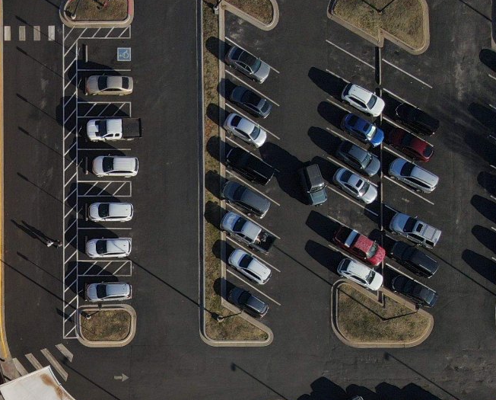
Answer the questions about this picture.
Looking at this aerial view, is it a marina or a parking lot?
parking lot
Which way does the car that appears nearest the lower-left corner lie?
from side to side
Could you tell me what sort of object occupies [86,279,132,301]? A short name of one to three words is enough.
car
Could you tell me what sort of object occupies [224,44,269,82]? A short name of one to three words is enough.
car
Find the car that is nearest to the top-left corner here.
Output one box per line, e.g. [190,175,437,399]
[86,71,132,95]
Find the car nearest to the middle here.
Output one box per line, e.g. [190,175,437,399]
[221,179,272,218]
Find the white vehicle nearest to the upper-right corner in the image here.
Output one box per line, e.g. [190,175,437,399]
[338,80,385,118]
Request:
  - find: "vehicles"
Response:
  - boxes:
[331,165,377,202]
[328,223,387,268]
[224,44,269,82]
[391,239,440,277]
[300,161,328,206]
[86,71,132,95]
[387,127,434,163]
[222,282,270,319]
[334,139,381,176]
[221,179,272,218]
[86,279,132,301]
[393,100,440,137]
[388,156,440,195]
[90,154,140,177]
[220,210,280,254]
[87,199,133,223]
[220,143,280,188]
[389,274,438,310]
[226,83,274,120]
[390,211,441,250]
[338,111,384,149]
[221,111,266,148]
[338,80,385,118]
[335,255,382,292]
[86,235,132,257]
[86,115,143,142]
[225,248,272,285]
